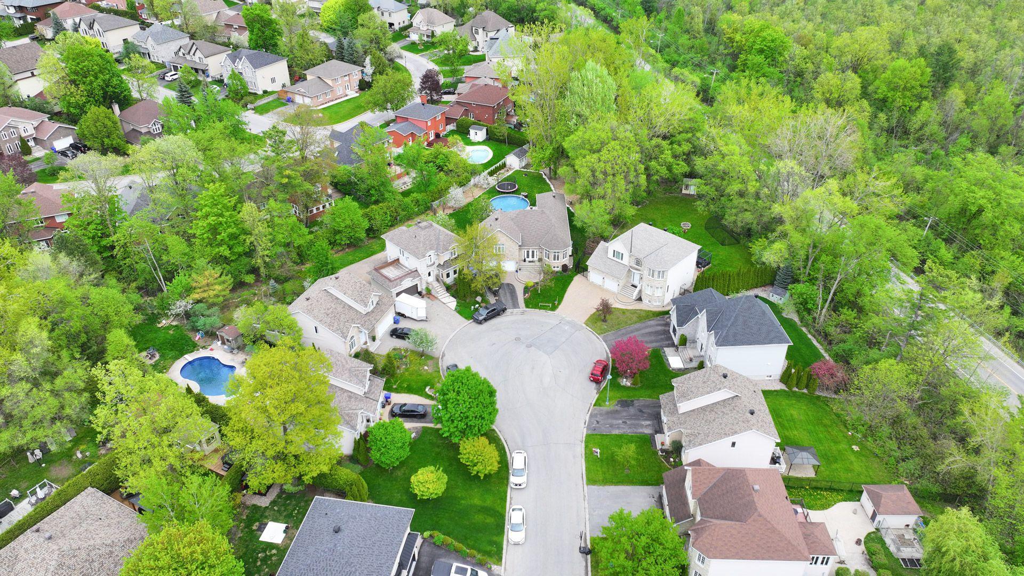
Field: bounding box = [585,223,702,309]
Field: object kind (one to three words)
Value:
house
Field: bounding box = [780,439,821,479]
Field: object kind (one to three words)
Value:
gazebo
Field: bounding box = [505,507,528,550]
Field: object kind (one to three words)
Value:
car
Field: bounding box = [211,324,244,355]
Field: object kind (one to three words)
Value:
shed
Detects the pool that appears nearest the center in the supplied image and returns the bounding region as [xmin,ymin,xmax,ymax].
[489,195,531,209]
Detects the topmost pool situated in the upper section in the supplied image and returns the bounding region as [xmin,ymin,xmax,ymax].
[468,147,491,163]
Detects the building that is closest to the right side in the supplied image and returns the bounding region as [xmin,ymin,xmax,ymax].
[858,484,923,530]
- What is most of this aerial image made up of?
trees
